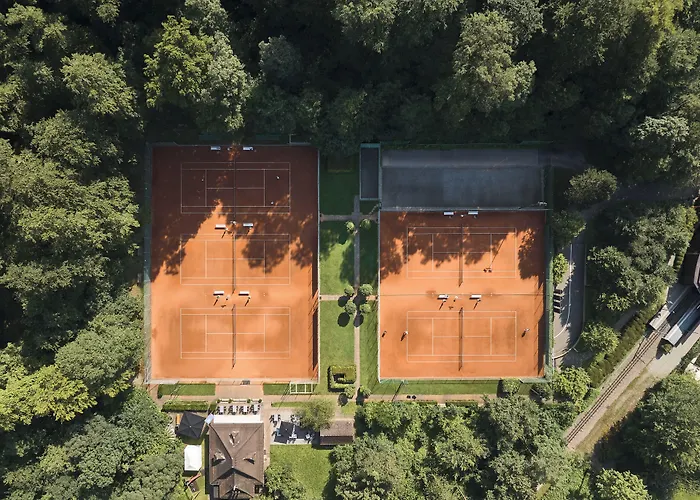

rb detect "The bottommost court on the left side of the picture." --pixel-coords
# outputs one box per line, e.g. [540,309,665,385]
[151,289,317,379]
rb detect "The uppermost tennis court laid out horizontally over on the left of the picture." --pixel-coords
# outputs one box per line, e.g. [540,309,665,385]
[151,146,317,223]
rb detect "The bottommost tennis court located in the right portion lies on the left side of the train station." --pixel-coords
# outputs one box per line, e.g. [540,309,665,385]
[379,288,545,378]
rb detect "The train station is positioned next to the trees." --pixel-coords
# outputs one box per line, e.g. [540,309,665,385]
[644,282,700,345]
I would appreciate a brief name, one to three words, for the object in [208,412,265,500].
building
